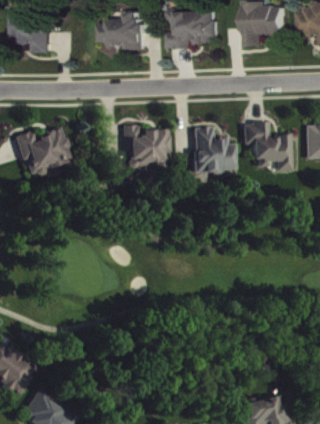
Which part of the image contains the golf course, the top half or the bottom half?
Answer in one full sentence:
It is in the bottom half that the golf course appears.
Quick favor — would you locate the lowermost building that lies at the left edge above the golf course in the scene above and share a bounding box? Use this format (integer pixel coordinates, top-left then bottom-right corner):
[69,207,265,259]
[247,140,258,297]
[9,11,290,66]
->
[12,124,76,175]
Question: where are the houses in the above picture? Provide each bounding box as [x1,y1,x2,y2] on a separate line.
[124,124,178,170]
[0,344,32,394]
[12,124,76,175]
[96,8,142,50]
[306,126,320,158]
[162,2,216,50]
[244,120,298,176]
[191,124,240,182]
[26,386,78,424]
[6,15,48,52]
[236,0,281,48]
[245,392,295,424]
[290,0,320,54]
